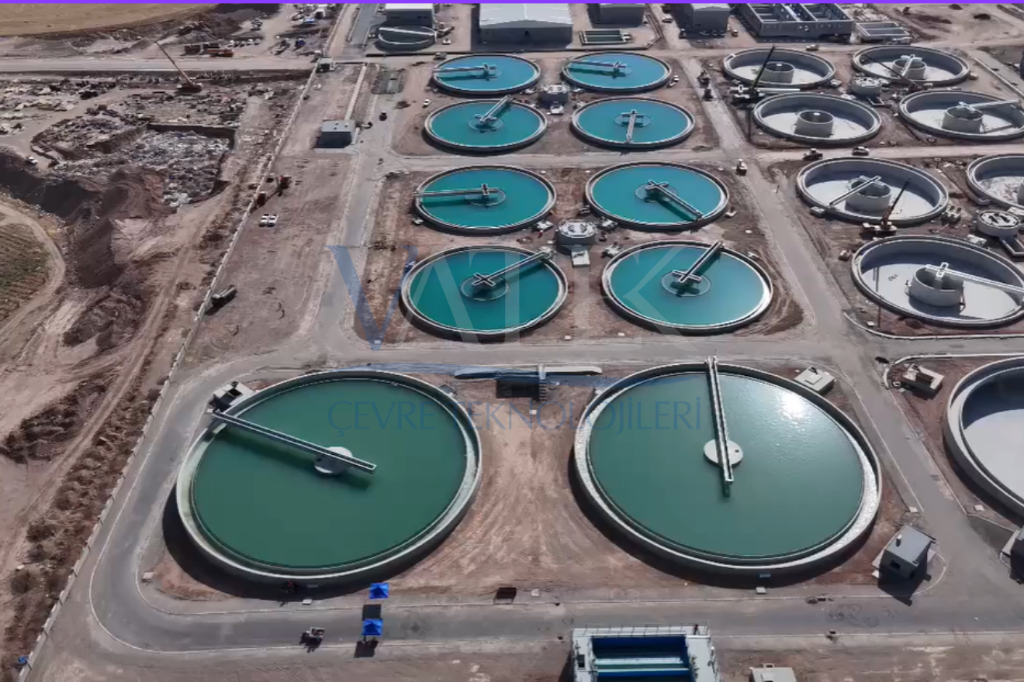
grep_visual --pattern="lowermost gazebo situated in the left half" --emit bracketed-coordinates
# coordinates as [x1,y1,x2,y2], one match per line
[361,618,385,642]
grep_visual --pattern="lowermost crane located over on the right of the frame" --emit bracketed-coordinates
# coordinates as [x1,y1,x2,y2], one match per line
[860,182,909,235]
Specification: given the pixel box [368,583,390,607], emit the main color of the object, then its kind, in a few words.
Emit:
blue gazebo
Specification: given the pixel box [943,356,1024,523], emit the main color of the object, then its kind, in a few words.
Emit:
white storage tank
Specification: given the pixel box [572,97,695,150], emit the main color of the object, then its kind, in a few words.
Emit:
blue storage tank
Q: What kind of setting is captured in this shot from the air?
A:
industrial area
